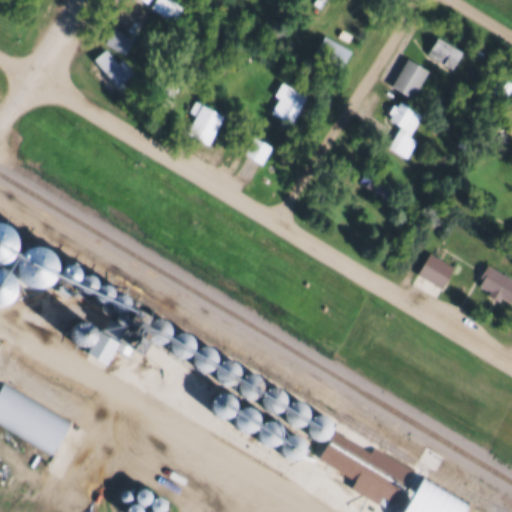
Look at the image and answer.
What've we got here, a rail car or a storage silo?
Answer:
storage silo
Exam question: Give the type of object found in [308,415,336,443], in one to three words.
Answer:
silo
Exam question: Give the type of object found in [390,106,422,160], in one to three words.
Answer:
house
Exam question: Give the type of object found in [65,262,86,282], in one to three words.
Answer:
silo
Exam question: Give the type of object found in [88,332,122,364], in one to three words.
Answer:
shed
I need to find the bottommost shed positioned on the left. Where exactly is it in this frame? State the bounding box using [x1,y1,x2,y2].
[0,385,71,454]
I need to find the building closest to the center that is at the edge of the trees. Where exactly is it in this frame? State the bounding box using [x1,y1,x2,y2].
[246,138,273,166]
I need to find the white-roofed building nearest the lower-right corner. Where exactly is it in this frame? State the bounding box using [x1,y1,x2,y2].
[404,478,470,512]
